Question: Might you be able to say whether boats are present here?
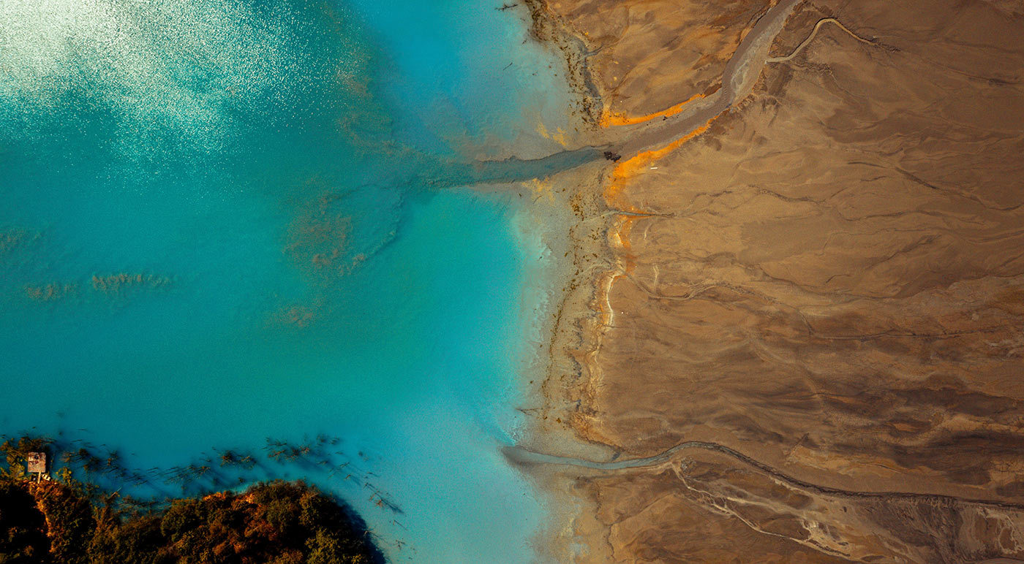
No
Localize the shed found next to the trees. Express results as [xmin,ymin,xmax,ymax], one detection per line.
[28,451,51,473]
